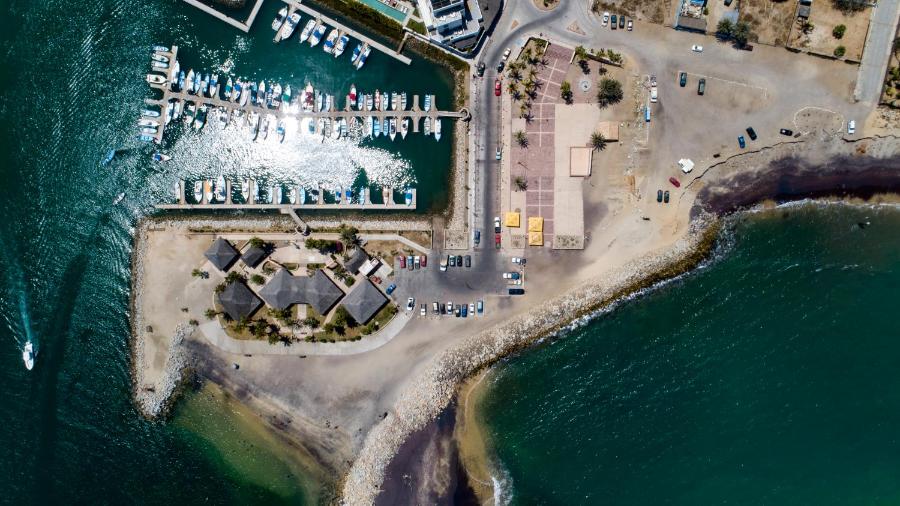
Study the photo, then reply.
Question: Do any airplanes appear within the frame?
No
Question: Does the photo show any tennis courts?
No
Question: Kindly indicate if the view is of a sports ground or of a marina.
marina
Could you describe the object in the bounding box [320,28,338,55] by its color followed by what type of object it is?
white boat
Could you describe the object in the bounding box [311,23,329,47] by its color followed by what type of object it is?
white boat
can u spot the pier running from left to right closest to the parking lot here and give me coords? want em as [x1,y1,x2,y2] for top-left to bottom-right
[156,180,418,226]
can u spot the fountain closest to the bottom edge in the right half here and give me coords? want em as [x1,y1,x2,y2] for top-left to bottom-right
[576,76,594,95]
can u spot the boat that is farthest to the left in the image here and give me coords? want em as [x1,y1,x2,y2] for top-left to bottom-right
[17,338,33,370]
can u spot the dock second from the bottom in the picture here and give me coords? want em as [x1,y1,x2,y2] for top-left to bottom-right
[148,47,461,143]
